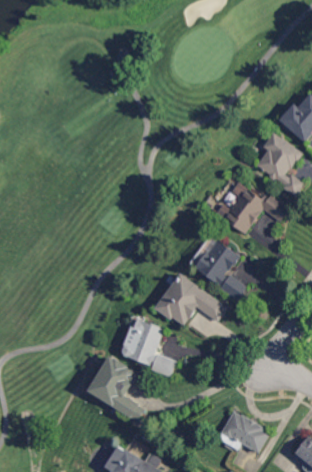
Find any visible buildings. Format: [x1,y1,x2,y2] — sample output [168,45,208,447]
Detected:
[192,238,246,298]
[104,447,164,472]
[156,274,228,328]
[260,132,304,195]
[221,412,270,455]
[88,356,146,423]
[122,318,176,376]
[280,93,312,140]
[296,438,312,472]
[218,182,284,234]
